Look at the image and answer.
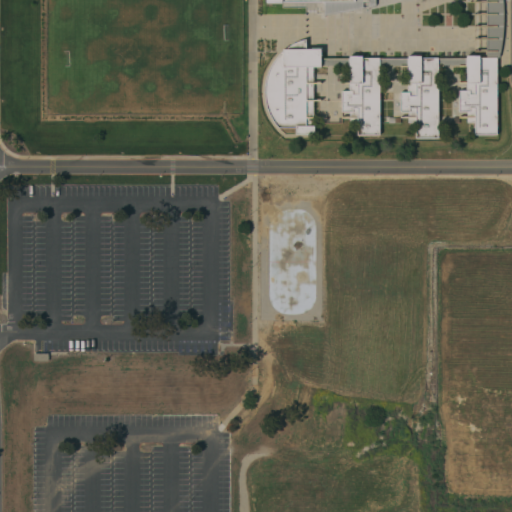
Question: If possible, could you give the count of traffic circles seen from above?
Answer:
0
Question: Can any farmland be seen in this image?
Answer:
Yes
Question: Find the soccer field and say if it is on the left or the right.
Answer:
left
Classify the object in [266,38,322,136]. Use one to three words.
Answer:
building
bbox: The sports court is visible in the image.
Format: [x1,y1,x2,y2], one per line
[270,209,316,314]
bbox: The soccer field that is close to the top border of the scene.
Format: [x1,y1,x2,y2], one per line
[48,0,243,113]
